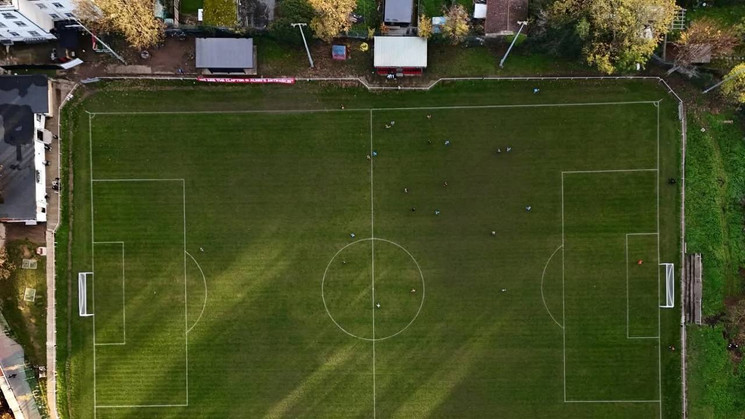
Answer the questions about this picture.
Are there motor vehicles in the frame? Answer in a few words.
No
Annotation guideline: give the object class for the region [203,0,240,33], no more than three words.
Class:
shed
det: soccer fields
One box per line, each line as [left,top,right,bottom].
[59,84,682,419]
